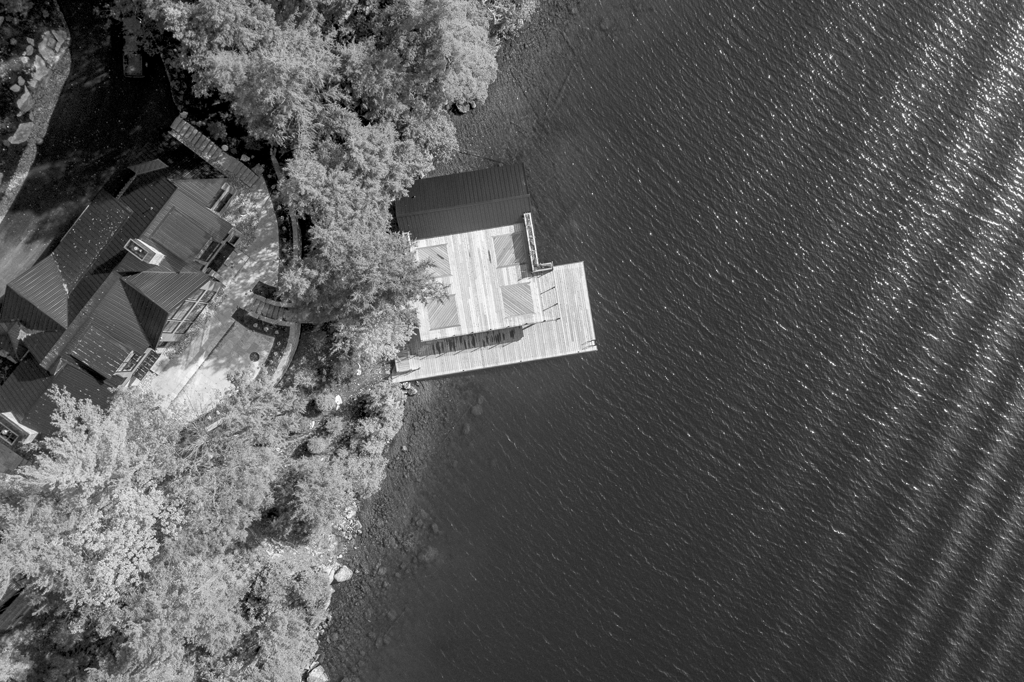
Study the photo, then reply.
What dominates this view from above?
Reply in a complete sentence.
The largest share of the image is taken up by water.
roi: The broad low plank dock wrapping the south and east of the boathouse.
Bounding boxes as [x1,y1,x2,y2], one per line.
[388,261,597,382]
